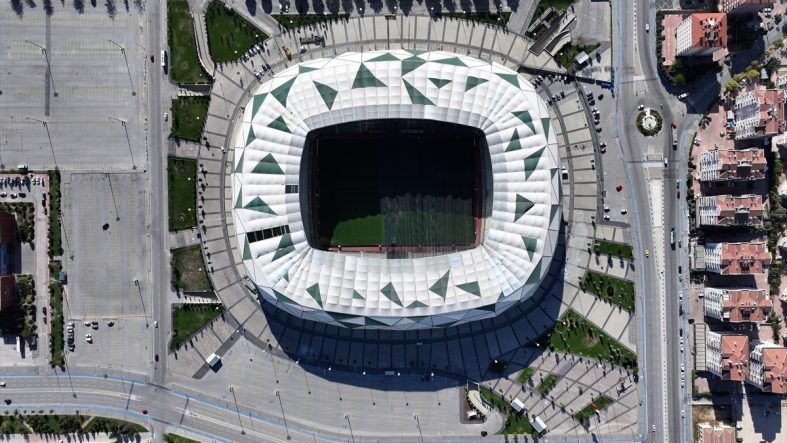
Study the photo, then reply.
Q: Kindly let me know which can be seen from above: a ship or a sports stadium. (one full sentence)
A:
There is a sports stadium in the scene.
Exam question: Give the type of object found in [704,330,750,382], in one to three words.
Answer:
building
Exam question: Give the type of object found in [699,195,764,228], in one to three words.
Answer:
building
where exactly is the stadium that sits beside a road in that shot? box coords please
[231,48,562,330]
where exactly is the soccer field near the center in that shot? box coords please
[318,136,479,251]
